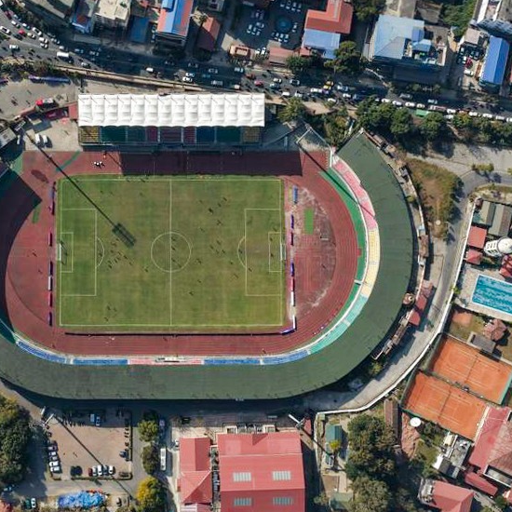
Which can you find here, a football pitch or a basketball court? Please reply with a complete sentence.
The one in the frame is a football pitch.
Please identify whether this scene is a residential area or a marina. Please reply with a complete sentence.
The area seen from above is a residential area.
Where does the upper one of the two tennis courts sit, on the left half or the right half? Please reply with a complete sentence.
The upper one of the two tennis courts is on the right side of the image.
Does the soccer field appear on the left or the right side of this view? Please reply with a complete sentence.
The soccer field appears in the left half of the scene.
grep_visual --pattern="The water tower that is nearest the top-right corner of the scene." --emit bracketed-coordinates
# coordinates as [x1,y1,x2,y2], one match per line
[482,238,512,256]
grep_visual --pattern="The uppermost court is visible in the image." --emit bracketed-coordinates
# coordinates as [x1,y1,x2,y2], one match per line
[432,336,512,405]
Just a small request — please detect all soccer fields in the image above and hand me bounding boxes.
[53,174,288,330]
